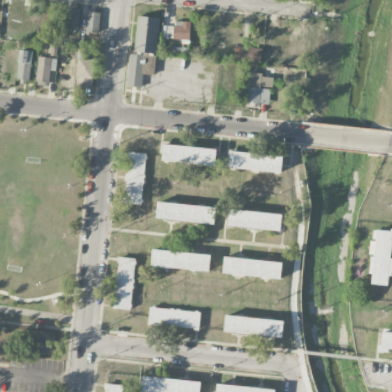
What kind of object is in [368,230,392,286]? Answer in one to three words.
building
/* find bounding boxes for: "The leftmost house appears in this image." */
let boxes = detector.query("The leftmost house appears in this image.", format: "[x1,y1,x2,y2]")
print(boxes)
[17,50,32,84]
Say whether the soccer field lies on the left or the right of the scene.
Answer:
left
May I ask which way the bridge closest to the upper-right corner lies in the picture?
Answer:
from left to right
